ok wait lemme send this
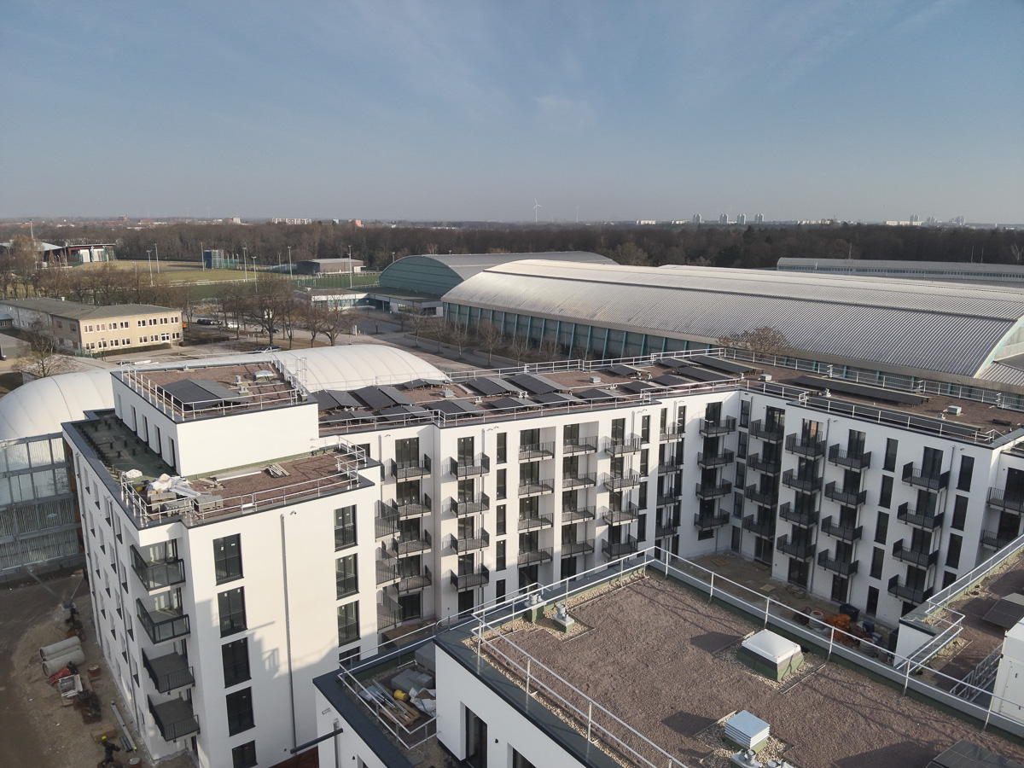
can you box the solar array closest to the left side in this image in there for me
[160,379,253,413]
